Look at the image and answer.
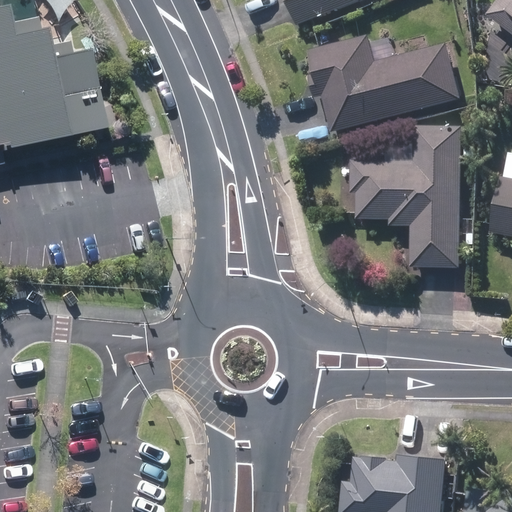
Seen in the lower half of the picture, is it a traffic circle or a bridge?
traffic circle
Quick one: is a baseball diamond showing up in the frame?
No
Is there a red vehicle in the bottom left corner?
Yes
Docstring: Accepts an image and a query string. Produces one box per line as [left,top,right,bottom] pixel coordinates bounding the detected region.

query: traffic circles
[210,325,278,394]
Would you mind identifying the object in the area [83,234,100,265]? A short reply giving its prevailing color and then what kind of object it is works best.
blue car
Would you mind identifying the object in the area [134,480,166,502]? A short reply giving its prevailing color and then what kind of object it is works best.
white car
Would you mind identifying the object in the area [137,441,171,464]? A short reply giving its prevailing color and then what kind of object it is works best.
white car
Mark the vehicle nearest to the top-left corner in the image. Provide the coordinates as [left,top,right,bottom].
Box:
[145,45,166,78]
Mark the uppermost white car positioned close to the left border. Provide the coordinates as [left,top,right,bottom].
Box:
[10,360,44,375]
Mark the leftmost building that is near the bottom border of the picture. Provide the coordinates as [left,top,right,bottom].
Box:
[338,456,444,512]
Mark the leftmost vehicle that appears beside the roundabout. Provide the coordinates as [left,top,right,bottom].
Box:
[212,390,246,408]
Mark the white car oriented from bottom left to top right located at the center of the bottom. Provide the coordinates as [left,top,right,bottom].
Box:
[262,372,287,401]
